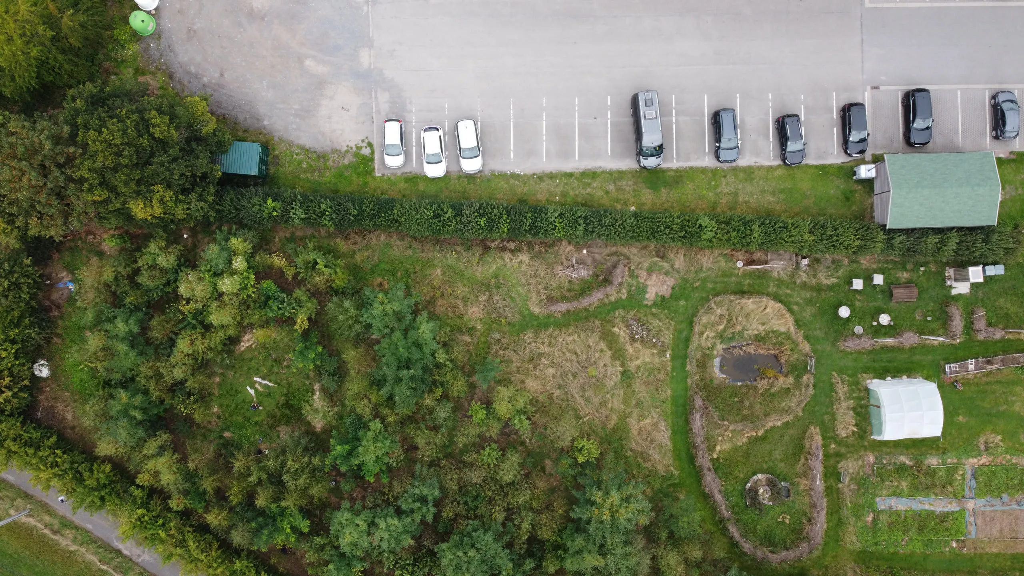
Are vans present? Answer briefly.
Yes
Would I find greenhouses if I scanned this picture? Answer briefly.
Yes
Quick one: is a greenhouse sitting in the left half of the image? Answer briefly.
No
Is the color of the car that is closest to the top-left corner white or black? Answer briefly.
white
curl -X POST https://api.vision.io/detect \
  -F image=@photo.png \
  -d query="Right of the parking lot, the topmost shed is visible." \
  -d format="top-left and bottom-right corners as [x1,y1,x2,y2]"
[867,149,1004,231]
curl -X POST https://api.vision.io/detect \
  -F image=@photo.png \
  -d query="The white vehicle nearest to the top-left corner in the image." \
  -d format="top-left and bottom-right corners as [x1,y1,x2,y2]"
[380,119,407,169]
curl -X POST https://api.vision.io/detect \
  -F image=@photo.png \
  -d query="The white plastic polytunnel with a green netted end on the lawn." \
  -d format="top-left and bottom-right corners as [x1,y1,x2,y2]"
[867,371,946,441]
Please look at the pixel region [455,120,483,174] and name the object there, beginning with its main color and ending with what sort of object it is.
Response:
white car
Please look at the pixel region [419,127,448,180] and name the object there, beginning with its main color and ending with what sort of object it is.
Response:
white car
